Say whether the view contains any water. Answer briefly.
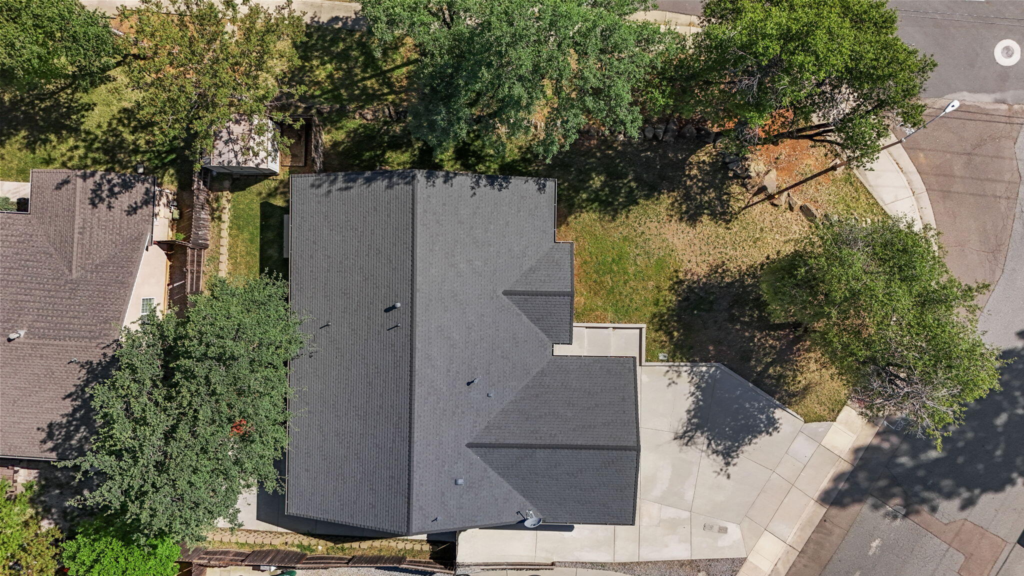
No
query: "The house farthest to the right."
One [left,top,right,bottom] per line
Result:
[283,168,642,536]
